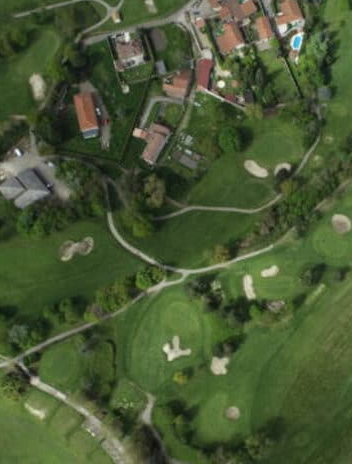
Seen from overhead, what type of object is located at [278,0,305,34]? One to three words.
house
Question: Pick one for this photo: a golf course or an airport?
golf course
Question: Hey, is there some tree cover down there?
Yes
